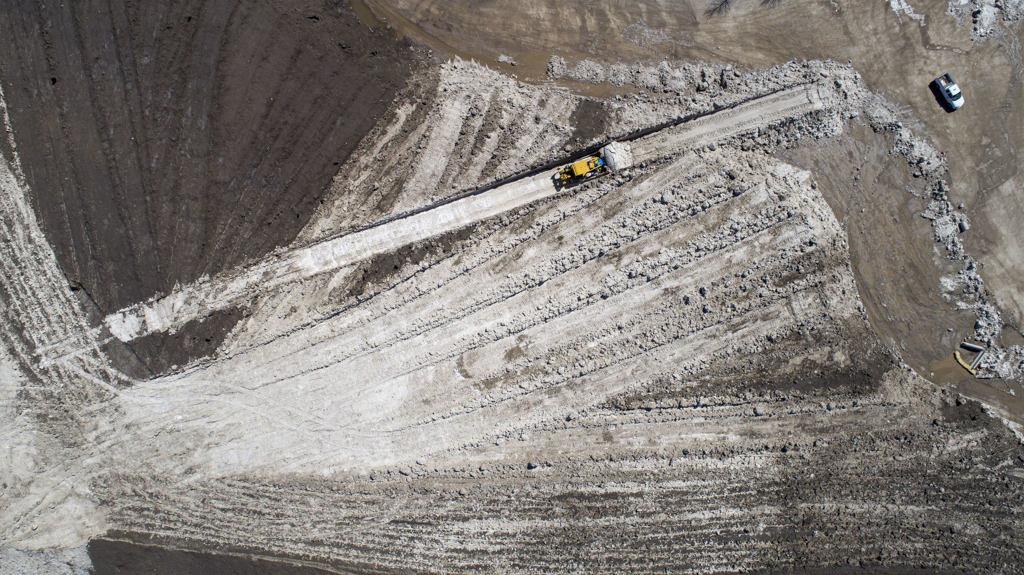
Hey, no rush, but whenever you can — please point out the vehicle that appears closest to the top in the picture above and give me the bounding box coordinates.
[933,74,963,112]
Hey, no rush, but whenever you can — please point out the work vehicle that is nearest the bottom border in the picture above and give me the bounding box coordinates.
[556,148,611,185]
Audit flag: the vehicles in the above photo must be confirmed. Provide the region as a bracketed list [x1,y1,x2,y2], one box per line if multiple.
[556,148,611,185]
[933,74,963,112]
